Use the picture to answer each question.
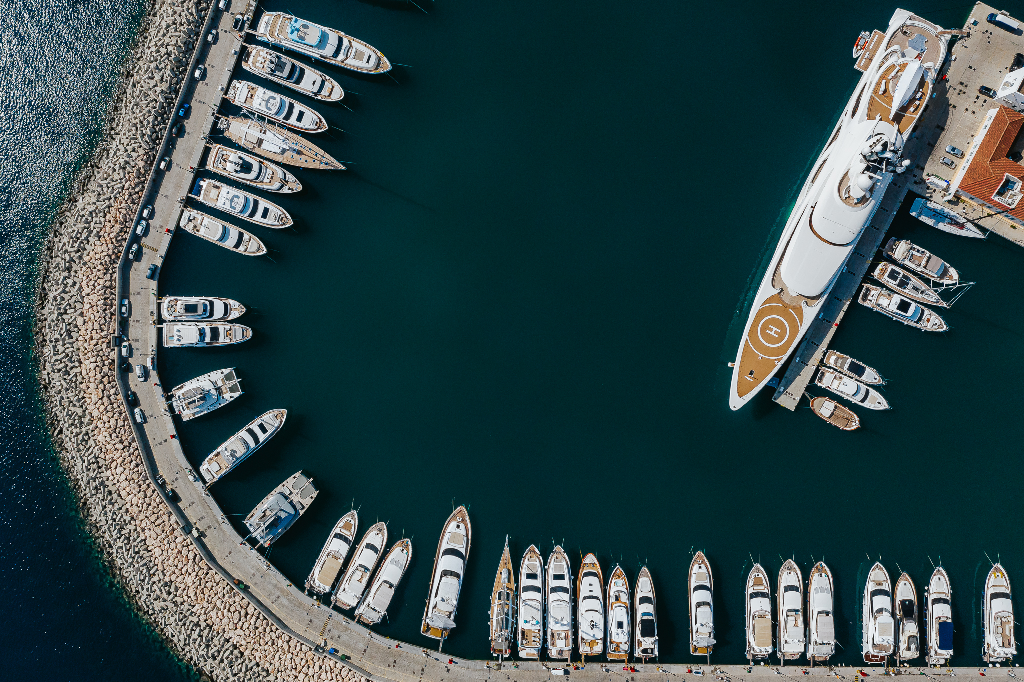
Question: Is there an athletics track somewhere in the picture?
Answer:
No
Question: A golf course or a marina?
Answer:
marina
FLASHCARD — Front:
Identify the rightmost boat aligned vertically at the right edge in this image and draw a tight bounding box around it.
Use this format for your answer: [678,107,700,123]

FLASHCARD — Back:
[978,552,1017,671]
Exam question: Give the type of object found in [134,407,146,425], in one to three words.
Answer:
vehicle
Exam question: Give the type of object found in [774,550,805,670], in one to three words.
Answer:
boat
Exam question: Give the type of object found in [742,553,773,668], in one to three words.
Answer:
boat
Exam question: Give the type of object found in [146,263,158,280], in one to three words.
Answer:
vehicle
